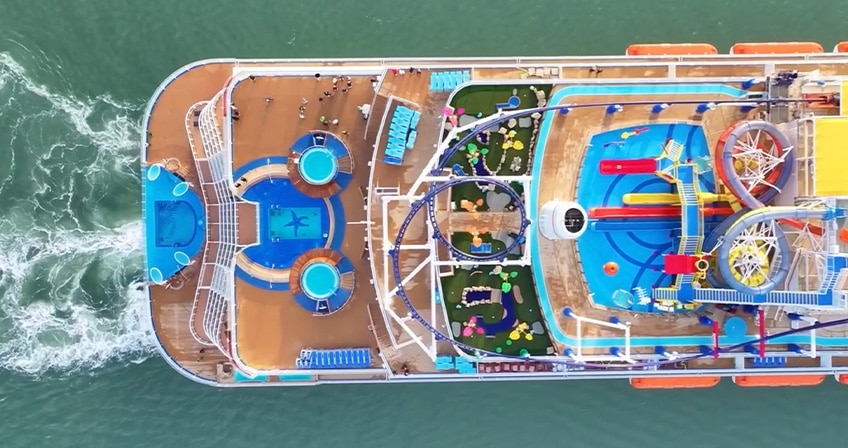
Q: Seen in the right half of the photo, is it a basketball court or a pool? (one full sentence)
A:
It is a pool that can be seen in the right half of the photo.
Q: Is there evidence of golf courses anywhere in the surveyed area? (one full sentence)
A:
Yes, there's a golf course down there.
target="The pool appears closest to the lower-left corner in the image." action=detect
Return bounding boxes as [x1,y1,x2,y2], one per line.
[147,166,206,284]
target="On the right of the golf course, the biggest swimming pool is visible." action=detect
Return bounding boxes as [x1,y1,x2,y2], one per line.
[574,117,729,318]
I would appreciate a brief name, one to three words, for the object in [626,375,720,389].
boat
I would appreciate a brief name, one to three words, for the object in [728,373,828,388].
boat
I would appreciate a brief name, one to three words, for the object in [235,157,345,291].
swimming pool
